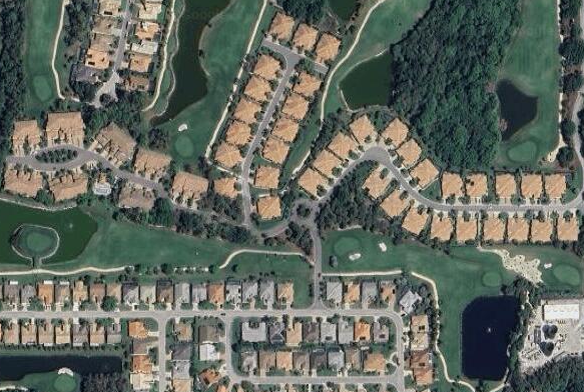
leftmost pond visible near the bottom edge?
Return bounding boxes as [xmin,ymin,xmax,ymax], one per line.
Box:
[0,355,125,384]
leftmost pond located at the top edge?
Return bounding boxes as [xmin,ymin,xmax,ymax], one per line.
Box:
[153,0,232,123]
